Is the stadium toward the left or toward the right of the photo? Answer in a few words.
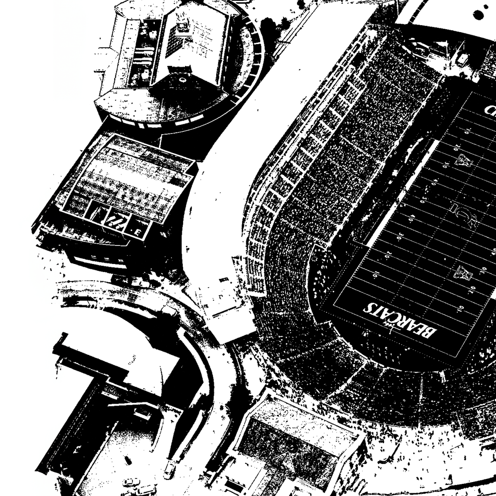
right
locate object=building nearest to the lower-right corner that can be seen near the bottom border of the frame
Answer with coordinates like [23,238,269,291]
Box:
[221,387,367,496]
